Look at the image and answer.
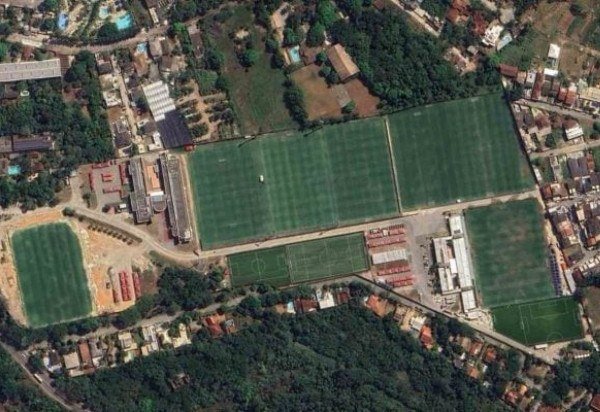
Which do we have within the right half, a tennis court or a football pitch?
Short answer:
football pitch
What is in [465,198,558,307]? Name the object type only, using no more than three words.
soccer field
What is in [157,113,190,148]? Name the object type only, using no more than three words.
building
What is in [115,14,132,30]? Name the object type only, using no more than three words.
swimming pool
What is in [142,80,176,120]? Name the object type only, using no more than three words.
building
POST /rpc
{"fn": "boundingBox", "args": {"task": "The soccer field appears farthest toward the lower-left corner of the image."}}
[13,222,93,328]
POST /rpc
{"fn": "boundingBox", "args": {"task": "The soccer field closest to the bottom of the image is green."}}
[490,295,584,346]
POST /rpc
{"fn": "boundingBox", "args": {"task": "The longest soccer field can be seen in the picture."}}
[186,118,401,250]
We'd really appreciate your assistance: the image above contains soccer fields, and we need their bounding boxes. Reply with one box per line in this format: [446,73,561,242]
[13,222,93,328]
[388,94,536,210]
[228,246,291,289]
[490,295,584,346]
[465,198,558,307]
[288,233,370,281]
[186,118,401,250]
